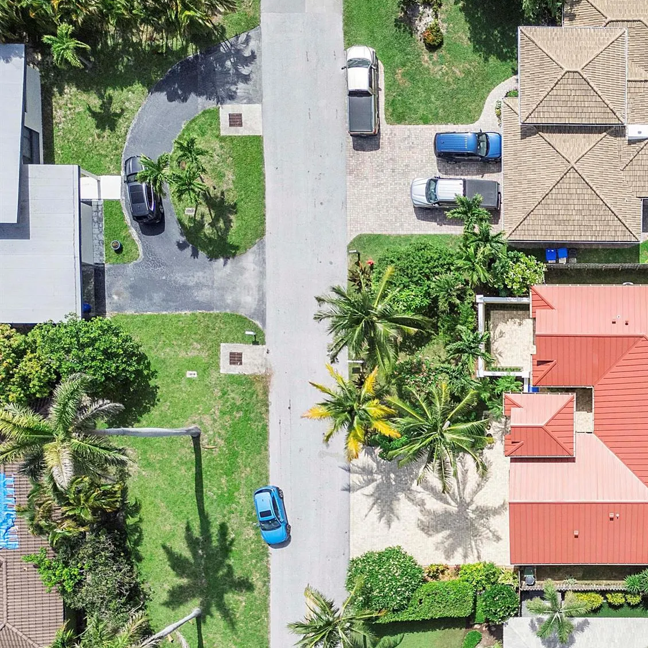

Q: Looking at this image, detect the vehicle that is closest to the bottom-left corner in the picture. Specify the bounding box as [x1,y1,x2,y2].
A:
[252,482,294,547]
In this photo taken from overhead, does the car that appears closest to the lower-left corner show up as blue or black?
blue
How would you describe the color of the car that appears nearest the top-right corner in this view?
blue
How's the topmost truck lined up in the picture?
vertically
